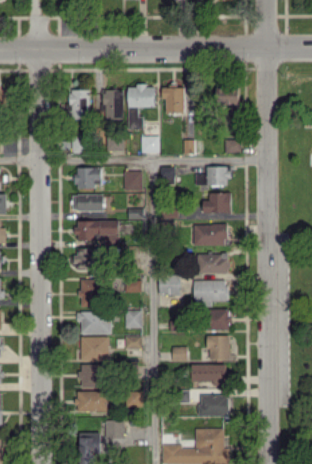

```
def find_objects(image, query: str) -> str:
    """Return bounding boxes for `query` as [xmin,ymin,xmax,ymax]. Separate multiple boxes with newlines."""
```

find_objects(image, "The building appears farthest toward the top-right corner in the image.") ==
[216,84,240,106]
